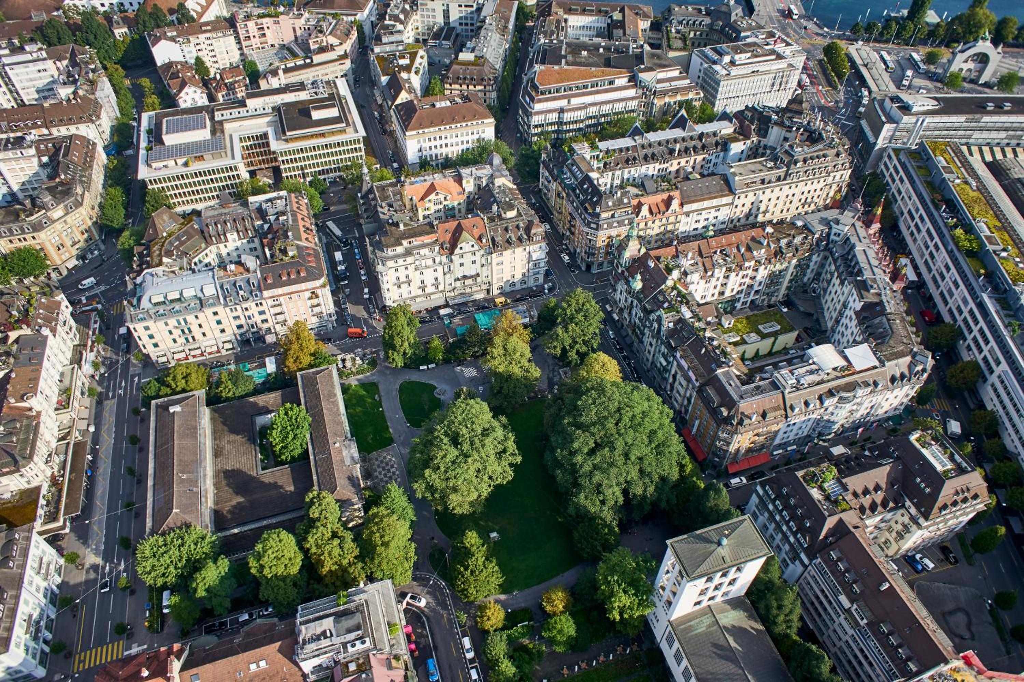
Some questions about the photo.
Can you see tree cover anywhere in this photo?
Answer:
Yes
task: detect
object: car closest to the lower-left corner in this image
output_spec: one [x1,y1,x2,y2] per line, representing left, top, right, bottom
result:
[99,574,111,594]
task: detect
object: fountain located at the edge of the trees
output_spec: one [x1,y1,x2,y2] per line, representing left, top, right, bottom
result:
[431,383,450,398]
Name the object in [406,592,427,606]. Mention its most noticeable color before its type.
white car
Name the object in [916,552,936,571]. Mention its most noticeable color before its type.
white car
